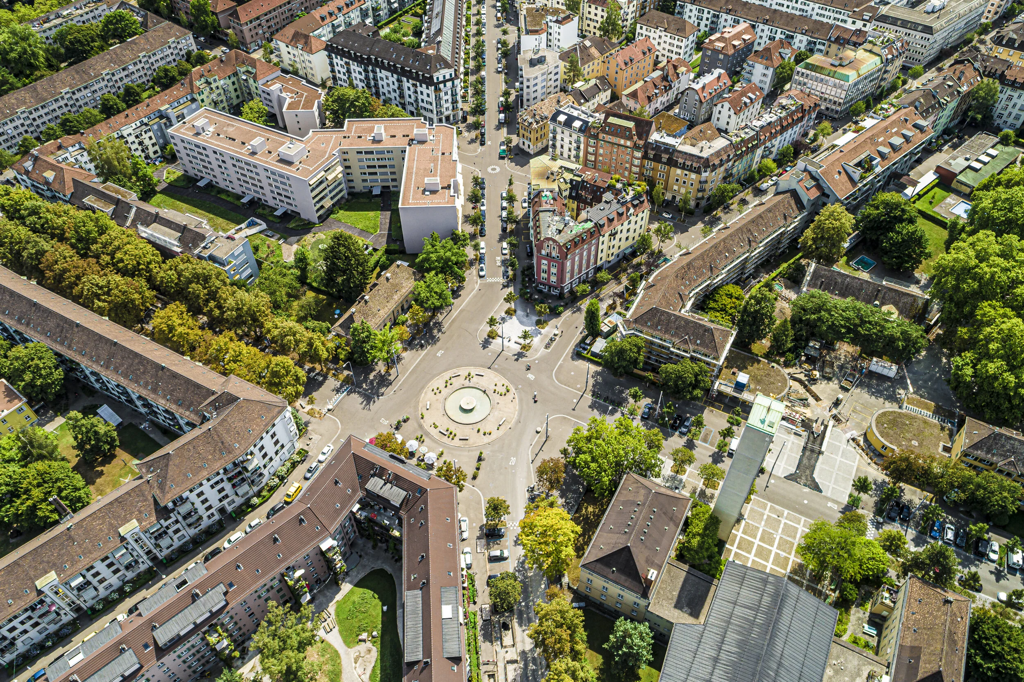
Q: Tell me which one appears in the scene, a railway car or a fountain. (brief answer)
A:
fountain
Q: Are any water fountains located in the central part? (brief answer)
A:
Yes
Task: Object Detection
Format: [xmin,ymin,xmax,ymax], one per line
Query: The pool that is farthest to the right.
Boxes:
[950,199,972,218]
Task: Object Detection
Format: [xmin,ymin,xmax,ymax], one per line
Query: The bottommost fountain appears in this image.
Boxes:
[440,383,496,428]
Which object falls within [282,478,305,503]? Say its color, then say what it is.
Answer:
yellow vehicle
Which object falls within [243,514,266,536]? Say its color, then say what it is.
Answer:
white car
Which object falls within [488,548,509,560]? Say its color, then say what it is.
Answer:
white vehicle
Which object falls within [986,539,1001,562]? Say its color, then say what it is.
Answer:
white car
